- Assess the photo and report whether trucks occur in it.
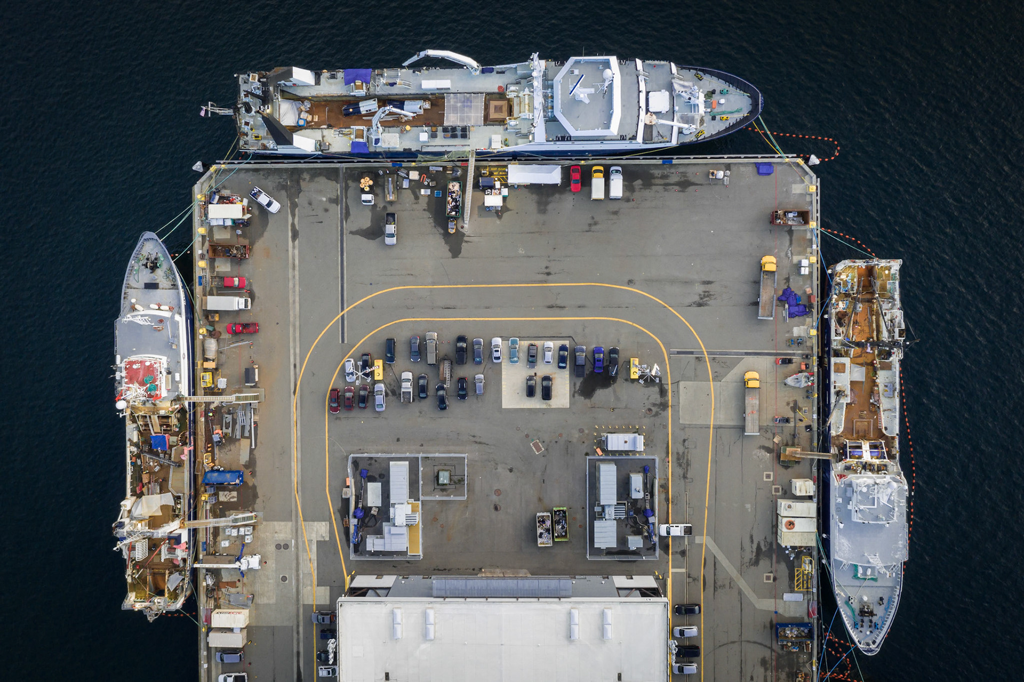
Yes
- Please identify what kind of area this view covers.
port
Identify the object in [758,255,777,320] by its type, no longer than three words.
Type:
vehicle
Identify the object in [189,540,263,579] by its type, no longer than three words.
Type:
truck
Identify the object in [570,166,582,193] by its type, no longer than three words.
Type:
vehicle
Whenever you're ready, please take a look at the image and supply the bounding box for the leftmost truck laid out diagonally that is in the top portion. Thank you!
[248,186,282,214]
